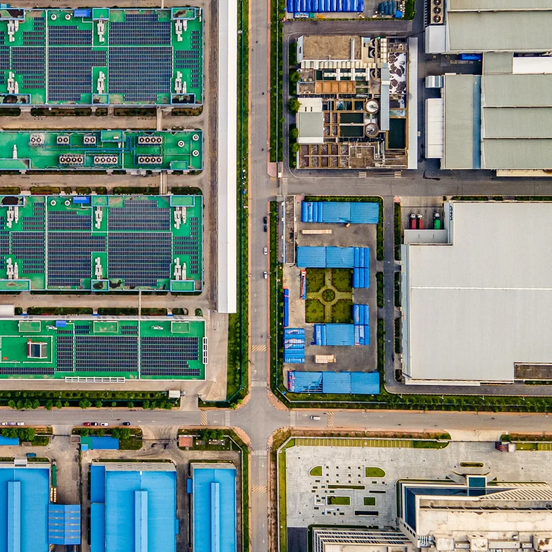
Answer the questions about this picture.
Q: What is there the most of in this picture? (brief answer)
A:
buildings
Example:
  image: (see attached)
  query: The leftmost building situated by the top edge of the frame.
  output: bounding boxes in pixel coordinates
[0,7,204,110]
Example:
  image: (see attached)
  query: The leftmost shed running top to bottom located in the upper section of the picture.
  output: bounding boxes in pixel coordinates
[214,0,242,313]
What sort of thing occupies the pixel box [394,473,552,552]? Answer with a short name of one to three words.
building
